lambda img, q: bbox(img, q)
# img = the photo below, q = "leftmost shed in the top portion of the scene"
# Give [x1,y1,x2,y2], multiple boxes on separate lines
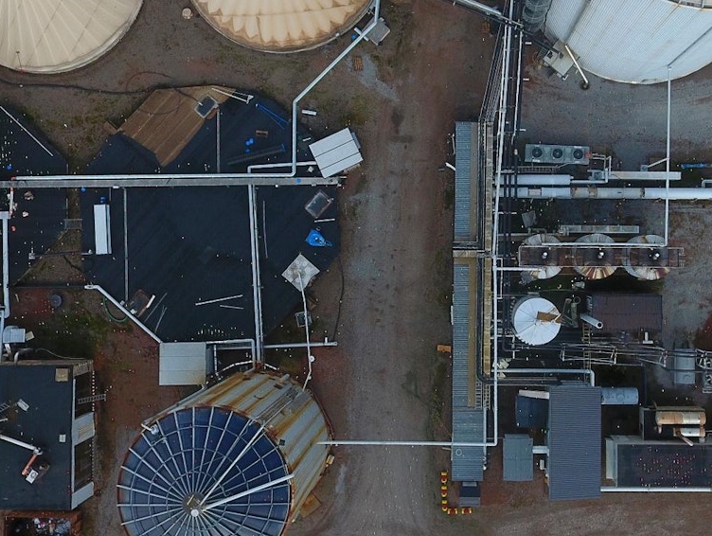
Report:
[308,128,365,178]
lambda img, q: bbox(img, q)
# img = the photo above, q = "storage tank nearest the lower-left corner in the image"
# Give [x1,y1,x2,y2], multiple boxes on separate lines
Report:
[113,371,332,536]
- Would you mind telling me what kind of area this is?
industrial area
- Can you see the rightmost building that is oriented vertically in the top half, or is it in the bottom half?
bottom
